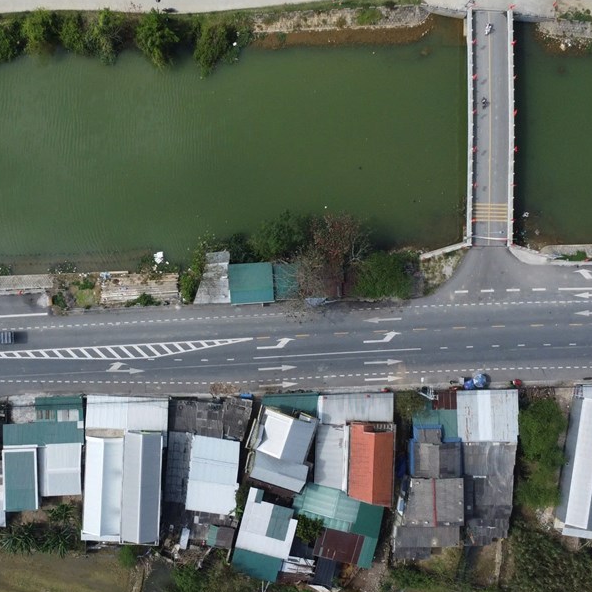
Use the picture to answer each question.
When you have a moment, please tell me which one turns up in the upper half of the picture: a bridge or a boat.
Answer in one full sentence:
Looking in the upper half of the picture, you will find a bridge.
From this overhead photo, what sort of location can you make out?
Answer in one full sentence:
The area seen from above is a residential area.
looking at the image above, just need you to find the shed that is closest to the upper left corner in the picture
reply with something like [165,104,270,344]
[193,251,231,304]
